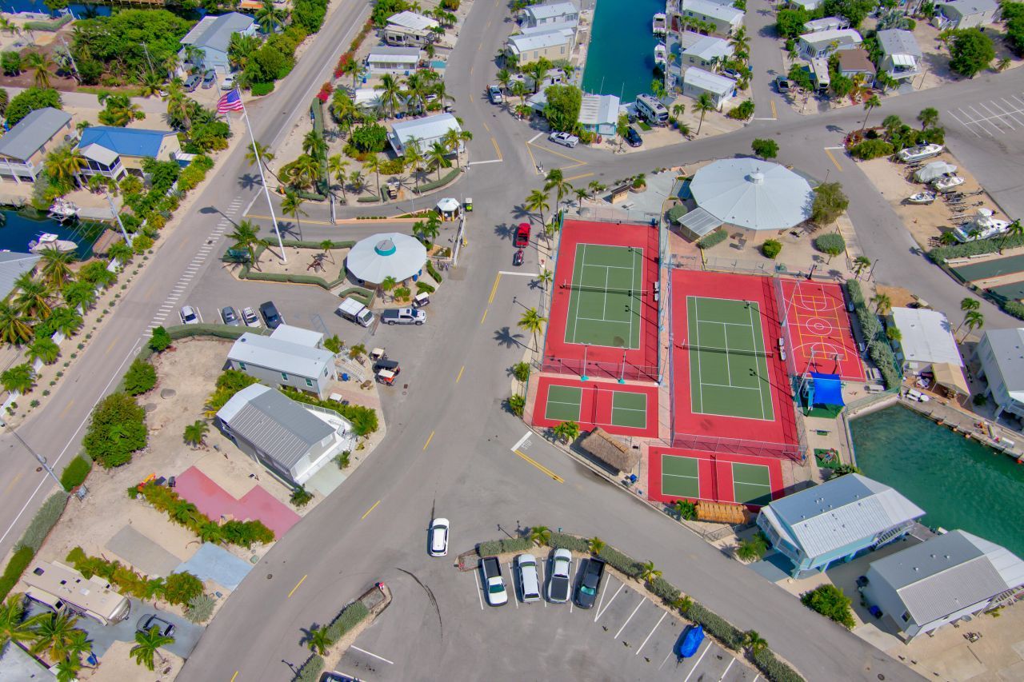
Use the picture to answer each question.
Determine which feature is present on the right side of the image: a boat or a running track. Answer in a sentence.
Looking on the right side of the image, you will find a boat.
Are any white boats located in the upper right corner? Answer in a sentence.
Yes, you'll find a white boat in the upper right corner.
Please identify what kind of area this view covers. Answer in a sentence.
This looks like a residential area.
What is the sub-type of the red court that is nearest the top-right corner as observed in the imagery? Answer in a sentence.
It turns out the red court that is nearest the top-right corner is a basketball court.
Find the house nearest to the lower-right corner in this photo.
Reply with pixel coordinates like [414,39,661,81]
[863,517,1024,642]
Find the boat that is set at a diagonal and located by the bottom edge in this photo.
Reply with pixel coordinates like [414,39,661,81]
[678,622,707,663]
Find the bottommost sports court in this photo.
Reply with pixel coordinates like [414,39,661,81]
[648,446,783,514]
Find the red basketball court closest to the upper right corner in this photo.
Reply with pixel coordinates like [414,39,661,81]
[774,277,865,381]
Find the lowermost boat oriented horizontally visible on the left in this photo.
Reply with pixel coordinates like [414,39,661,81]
[28,231,78,254]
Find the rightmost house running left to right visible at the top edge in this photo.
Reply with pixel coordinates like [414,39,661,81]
[932,0,999,34]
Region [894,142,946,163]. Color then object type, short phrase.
white boat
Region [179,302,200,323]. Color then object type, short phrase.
white car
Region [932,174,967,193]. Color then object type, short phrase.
white boat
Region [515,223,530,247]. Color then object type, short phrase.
red vehicle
